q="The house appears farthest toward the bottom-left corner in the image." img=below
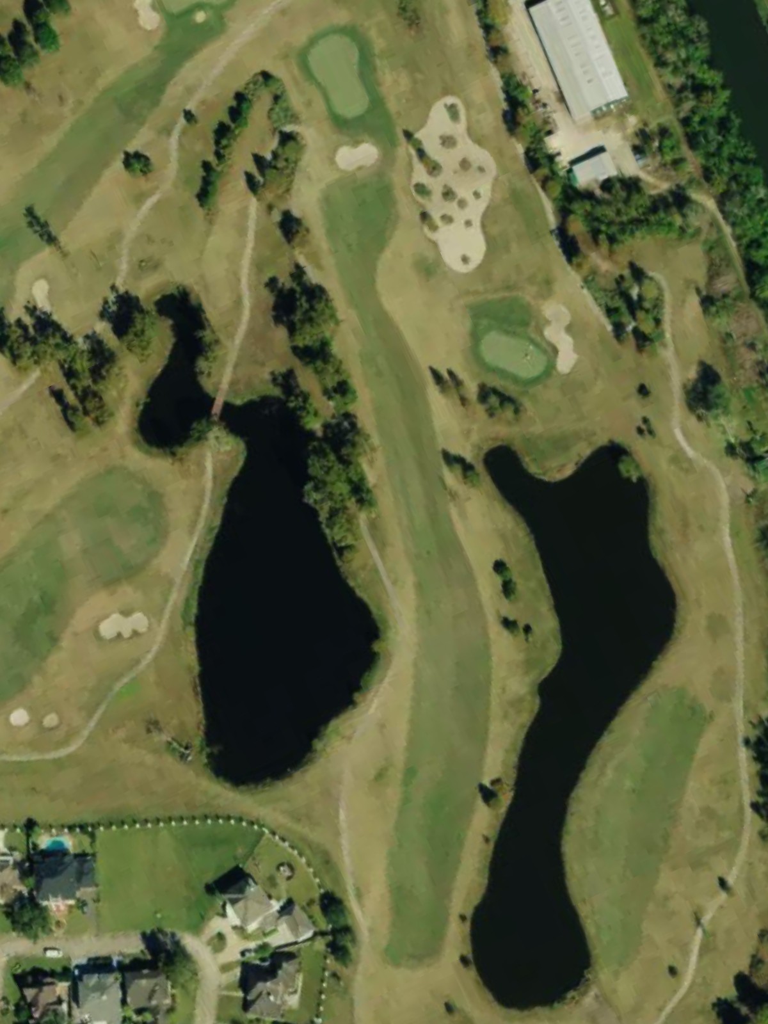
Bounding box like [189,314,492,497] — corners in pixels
[13,968,69,1024]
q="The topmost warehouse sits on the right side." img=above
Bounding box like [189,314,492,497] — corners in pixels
[519,0,630,126]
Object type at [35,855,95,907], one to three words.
house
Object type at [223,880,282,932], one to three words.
house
